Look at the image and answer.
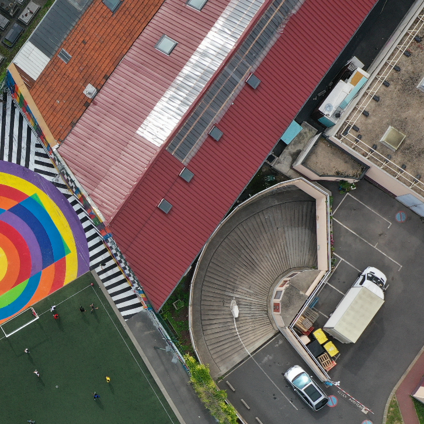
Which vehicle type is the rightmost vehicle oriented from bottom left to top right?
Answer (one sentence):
I'd say the rightmost vehicle oriented from bottom left to top right is a truck.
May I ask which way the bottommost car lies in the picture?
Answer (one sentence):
In this picture, the bottommost car lies diagonally.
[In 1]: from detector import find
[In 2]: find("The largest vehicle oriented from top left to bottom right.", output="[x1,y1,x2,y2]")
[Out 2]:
[279,362,335,417]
